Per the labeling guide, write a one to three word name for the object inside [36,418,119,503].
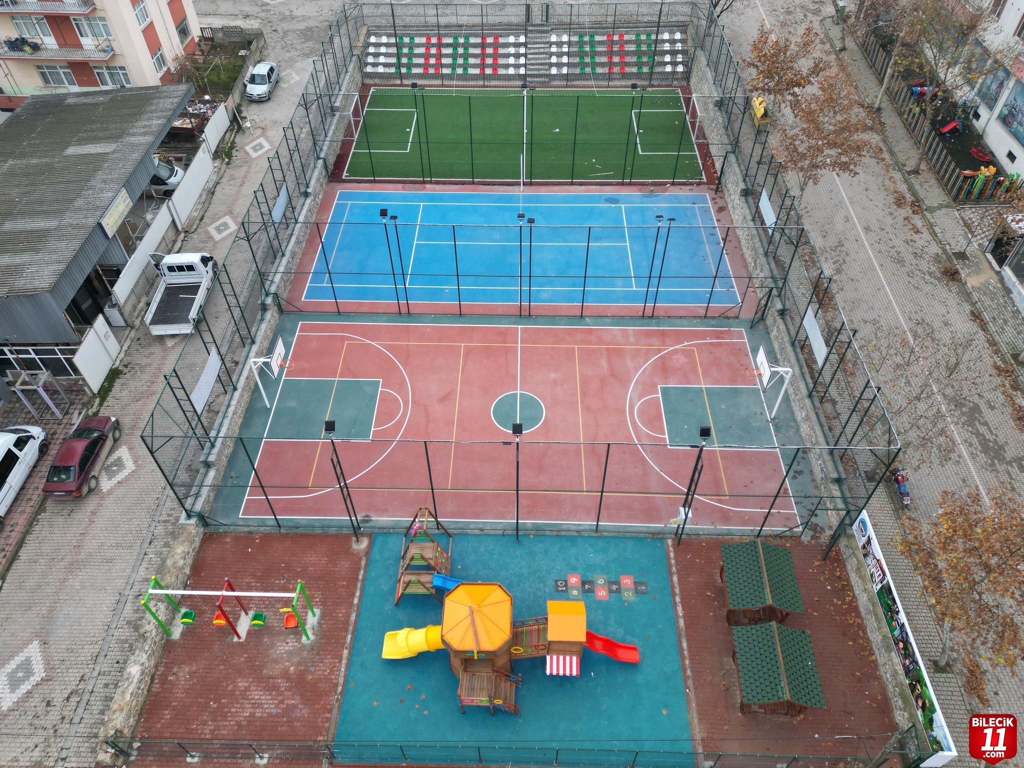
car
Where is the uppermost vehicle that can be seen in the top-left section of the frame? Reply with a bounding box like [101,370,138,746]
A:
[242,60,282,94]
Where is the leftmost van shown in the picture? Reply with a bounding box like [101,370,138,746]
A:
[0,431,44,523]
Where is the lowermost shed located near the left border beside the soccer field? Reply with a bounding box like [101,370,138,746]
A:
[0,83,211,377]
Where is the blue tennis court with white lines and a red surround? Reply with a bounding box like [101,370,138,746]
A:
[285,156,761,321]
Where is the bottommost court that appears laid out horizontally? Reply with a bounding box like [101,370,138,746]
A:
[211,314,830,538]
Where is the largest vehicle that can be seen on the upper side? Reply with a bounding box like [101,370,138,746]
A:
[139,250,215,327]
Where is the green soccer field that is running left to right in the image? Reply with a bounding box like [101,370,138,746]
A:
[332,84,720,185]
